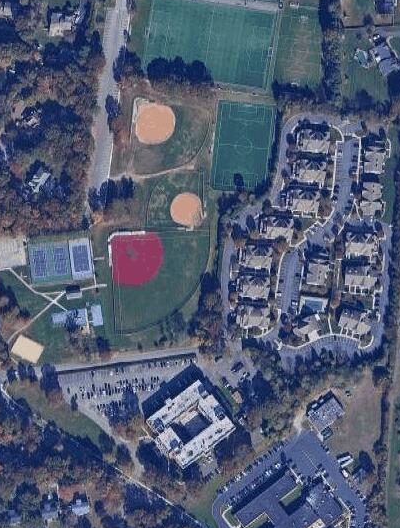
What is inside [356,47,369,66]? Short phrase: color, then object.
blue swimming pool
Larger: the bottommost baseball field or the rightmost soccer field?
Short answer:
the baseball field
